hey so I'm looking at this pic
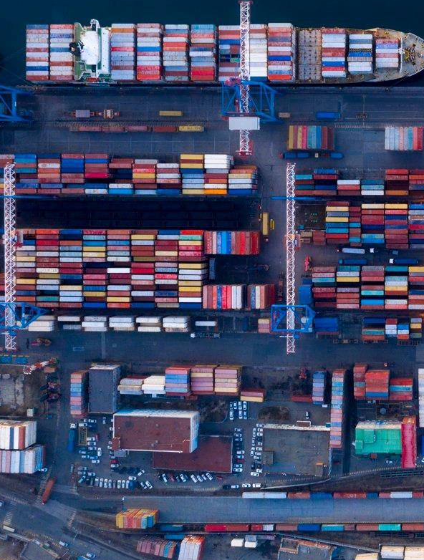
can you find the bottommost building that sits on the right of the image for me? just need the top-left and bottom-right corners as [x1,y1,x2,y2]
[278,536,335,560]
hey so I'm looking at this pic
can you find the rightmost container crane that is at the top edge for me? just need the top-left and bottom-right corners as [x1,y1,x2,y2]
[220,0,285,154]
